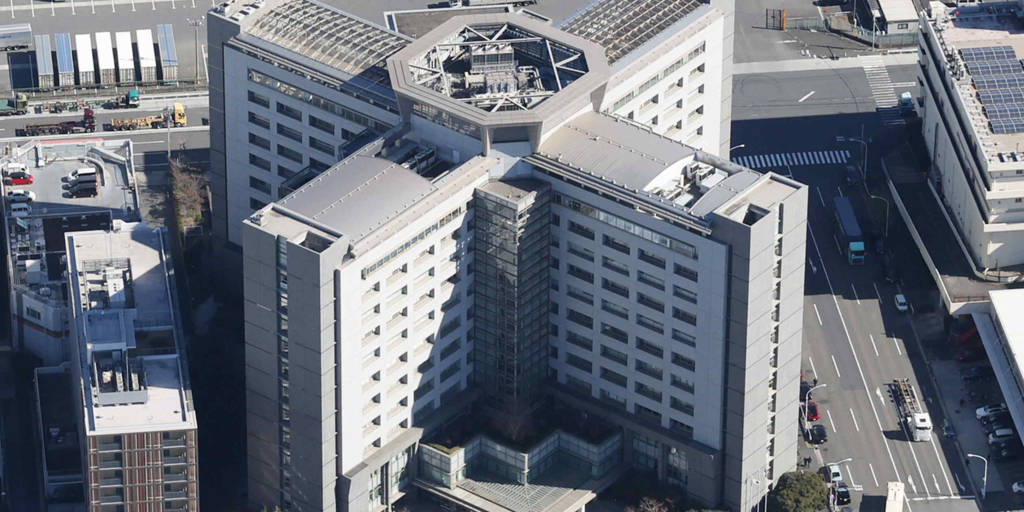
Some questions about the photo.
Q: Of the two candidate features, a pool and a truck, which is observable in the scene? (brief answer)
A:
truck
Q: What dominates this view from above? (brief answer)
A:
buildings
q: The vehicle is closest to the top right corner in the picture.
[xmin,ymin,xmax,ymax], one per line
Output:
[898,95,912,116]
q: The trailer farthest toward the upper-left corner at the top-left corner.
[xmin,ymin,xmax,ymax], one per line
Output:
[0,22,31,49]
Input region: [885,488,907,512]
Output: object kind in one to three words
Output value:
truck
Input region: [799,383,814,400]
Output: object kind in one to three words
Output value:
car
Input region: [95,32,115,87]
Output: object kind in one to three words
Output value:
trailer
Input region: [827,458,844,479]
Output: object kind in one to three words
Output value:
vehicle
